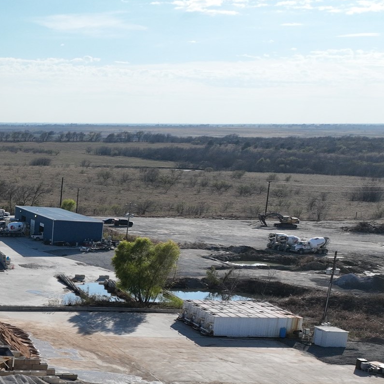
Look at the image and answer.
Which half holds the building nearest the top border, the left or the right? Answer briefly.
left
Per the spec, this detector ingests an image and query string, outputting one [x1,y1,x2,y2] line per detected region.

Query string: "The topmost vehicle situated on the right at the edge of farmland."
[259,211,301,228]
